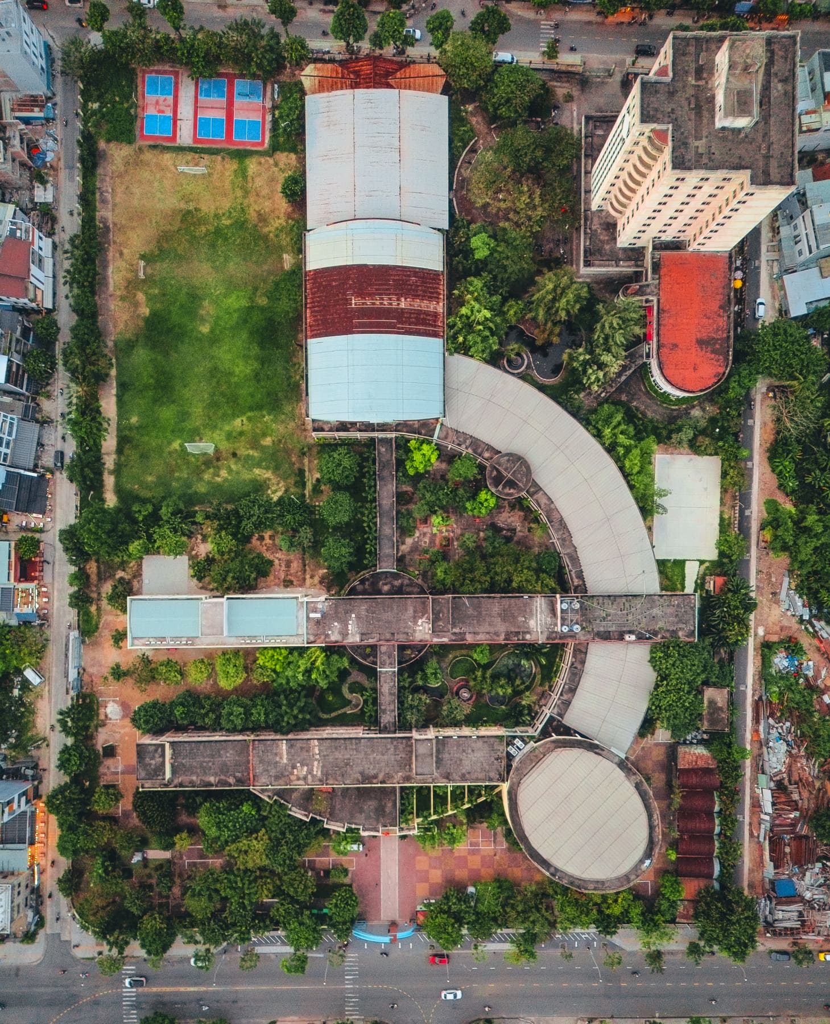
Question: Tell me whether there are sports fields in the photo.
Yes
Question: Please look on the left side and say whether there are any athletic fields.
Yes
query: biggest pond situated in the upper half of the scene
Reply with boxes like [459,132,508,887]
[506,324,585,382]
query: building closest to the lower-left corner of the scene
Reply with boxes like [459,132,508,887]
[0,867,34,934]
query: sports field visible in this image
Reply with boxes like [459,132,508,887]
[110,143,307,507]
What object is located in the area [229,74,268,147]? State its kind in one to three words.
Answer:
sports court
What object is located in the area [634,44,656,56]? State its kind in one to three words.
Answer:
vehicle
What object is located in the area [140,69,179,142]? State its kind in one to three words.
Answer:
sports court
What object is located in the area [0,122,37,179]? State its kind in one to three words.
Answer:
house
